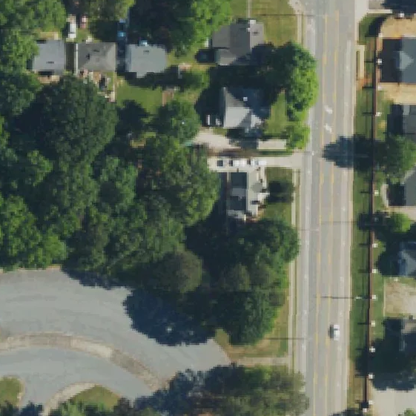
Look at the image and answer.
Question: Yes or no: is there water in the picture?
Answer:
No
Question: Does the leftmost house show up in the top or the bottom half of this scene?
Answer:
top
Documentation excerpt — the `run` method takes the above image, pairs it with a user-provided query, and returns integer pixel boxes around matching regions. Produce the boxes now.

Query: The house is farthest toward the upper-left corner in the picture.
[36,41,65,71]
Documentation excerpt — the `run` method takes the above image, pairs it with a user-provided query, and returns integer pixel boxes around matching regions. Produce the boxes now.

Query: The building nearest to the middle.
[228,171,273,210]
